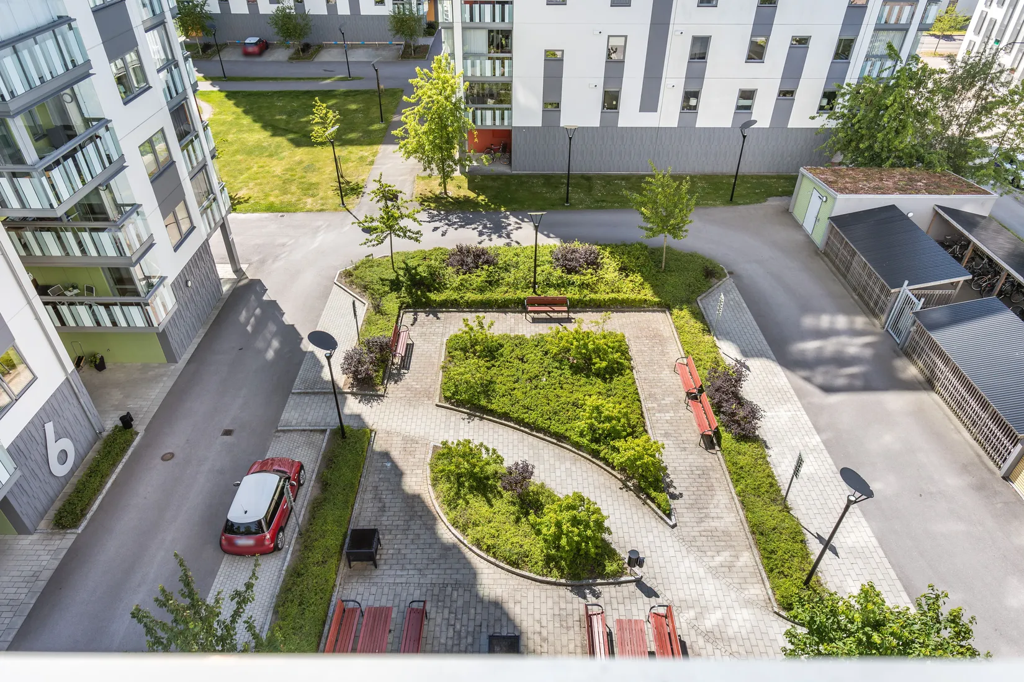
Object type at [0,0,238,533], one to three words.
building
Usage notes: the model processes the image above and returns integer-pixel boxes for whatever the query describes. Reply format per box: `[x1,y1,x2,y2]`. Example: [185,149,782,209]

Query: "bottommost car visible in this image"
[216,459,305,564]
